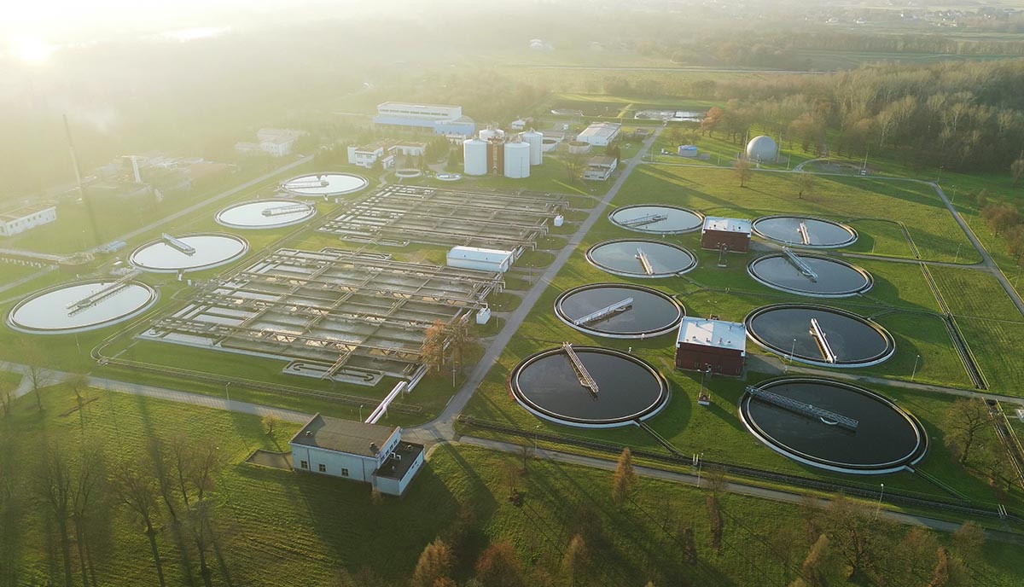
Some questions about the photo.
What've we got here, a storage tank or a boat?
storage tank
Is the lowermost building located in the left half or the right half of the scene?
left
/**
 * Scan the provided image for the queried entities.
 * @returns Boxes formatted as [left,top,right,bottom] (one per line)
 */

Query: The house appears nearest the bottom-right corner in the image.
[675,317,746,378]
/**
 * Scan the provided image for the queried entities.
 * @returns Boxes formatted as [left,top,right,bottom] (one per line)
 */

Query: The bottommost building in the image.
[286,409,425,496]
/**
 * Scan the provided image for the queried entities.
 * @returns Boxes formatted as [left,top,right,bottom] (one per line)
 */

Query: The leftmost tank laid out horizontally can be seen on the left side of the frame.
[7,278,162,334]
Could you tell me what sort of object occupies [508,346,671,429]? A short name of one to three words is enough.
storage tank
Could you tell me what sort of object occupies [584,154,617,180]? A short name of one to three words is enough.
building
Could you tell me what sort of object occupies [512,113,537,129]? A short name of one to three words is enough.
house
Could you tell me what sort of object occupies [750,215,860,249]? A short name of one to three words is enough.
storage tank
